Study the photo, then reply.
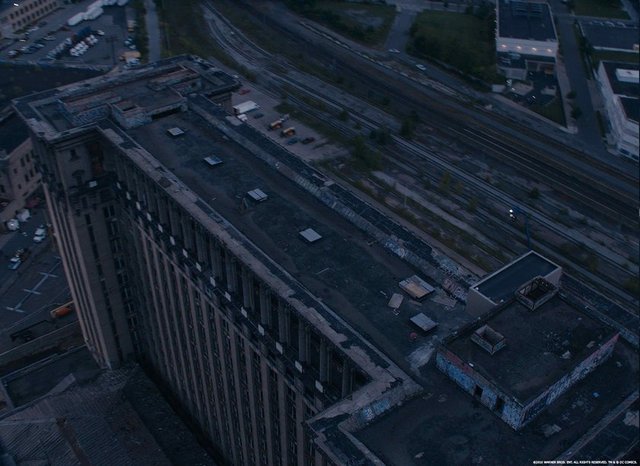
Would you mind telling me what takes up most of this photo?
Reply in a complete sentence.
What you mostly see from above here is buildings.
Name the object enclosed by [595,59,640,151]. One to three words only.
building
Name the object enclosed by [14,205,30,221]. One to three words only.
vehicle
